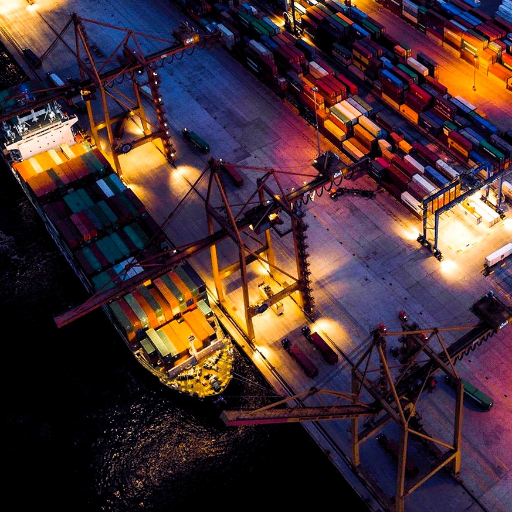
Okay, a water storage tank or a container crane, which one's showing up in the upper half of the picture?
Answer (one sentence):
The one visible in the upper half of the picture is a container crane.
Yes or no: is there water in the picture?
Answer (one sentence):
Yes, water shows up in the scene.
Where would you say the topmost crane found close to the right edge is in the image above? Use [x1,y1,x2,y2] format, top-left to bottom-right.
[412,157,511,260]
